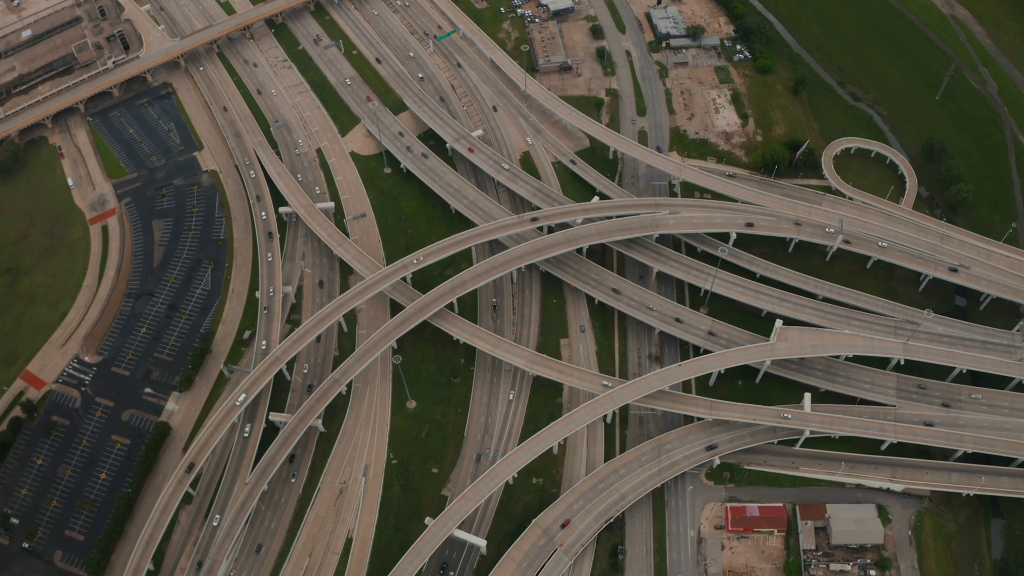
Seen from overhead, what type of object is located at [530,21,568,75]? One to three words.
building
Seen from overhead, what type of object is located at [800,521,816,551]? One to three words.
shed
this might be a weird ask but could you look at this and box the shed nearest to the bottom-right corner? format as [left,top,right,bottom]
[825,504,883,547]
